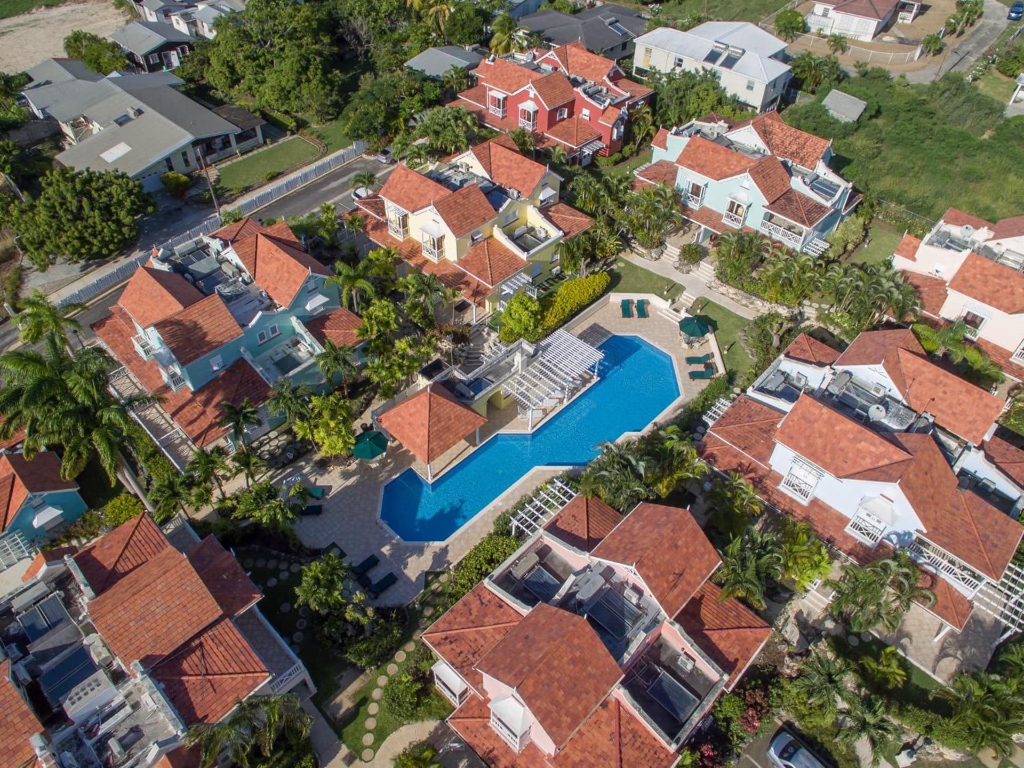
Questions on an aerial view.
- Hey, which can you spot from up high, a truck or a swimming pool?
swimming pool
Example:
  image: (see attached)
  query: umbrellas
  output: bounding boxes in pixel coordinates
[348,430,393,468]
[675,314,712,347]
